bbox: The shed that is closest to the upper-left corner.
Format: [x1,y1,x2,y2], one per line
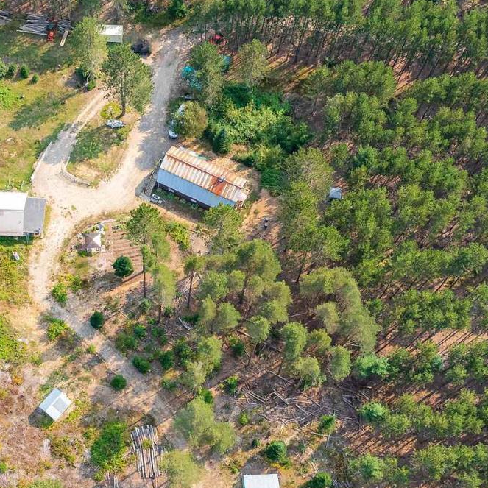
[99,24,122,51]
